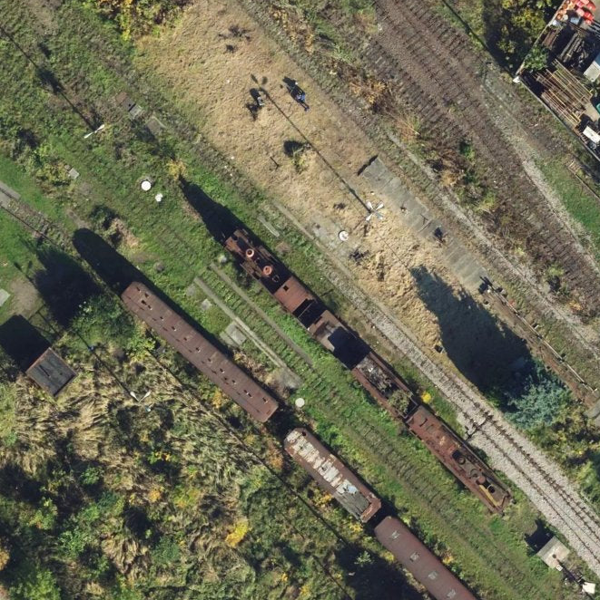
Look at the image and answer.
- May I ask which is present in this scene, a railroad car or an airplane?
railroad car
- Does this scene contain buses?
Yes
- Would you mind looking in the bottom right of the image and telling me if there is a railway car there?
Yes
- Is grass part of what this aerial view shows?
Yes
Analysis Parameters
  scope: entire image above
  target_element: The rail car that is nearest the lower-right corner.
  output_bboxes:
[404,406,516,516]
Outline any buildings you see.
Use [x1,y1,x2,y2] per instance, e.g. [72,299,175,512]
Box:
[536,537,570,568]
[25,346,77,396]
